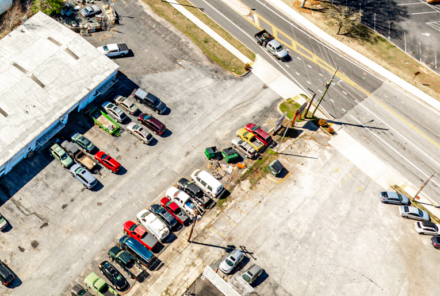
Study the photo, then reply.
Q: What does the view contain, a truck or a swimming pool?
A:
truck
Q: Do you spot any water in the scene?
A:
No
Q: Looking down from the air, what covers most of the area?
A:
paved ground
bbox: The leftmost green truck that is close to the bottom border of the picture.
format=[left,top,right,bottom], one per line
[81,270,122,296]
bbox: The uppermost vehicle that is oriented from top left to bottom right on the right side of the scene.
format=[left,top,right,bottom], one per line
[252,26,290,61]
